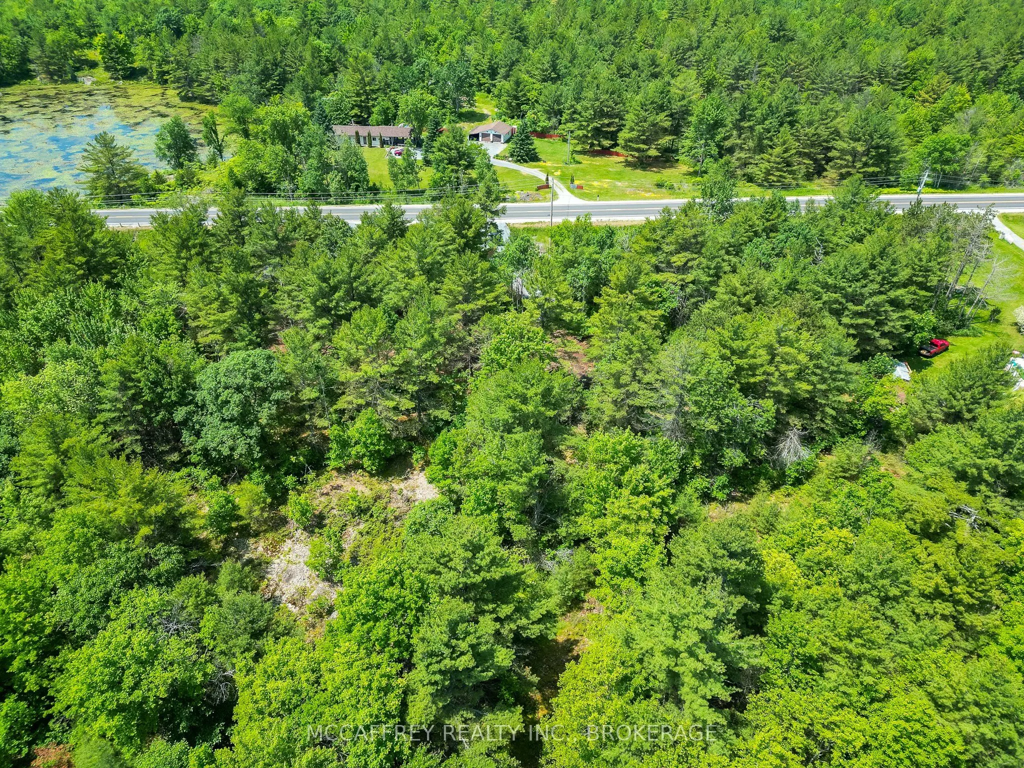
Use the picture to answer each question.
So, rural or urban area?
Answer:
rural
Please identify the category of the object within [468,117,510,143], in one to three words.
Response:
building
